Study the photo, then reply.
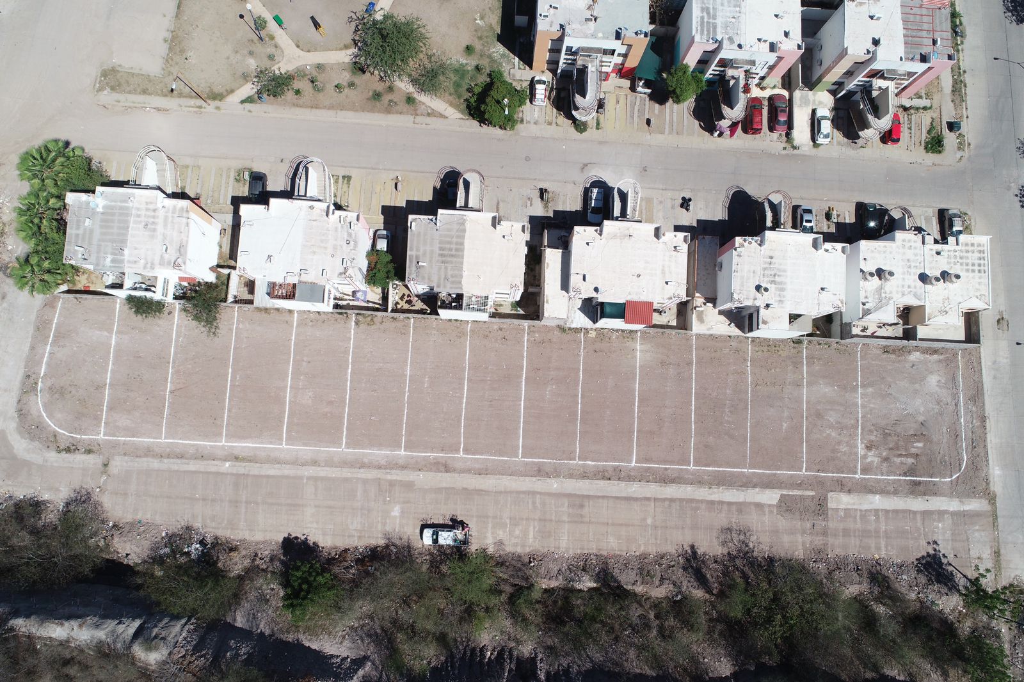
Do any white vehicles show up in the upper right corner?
Yes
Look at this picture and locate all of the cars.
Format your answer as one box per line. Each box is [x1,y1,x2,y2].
[532,76,548,107]
[797,201,816,235]
[634,64,651,98]
[587,187,604,224]
[374,224,391,256]
[745,98,764,135]
[882,116,900,145]
[769,96,788,133]
[813,110,831,144]
[444,172,461,207]
[942,207,964,243]
[248,168,268,205]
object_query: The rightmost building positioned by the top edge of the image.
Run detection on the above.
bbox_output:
[813,0,957,138]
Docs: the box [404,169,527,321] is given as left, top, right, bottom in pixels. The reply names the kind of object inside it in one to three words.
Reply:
building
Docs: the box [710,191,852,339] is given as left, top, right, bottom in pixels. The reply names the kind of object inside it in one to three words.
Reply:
building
